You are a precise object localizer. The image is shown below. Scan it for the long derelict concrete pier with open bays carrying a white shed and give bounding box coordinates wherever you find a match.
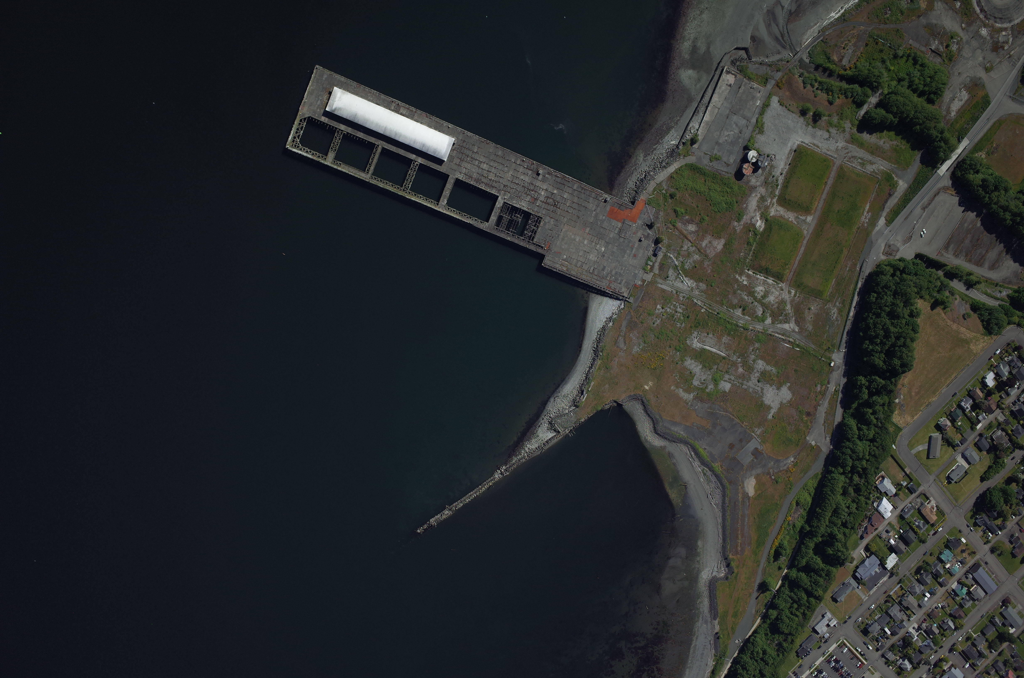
[287,65,657,300]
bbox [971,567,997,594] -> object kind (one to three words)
building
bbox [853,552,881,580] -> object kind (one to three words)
building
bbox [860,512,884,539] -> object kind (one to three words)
house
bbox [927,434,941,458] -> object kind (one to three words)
house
